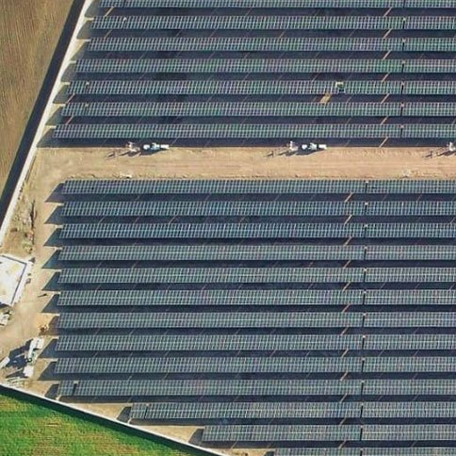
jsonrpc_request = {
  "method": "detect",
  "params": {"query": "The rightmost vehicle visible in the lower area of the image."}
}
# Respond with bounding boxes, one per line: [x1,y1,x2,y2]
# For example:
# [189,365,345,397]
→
[24,336,41,363]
